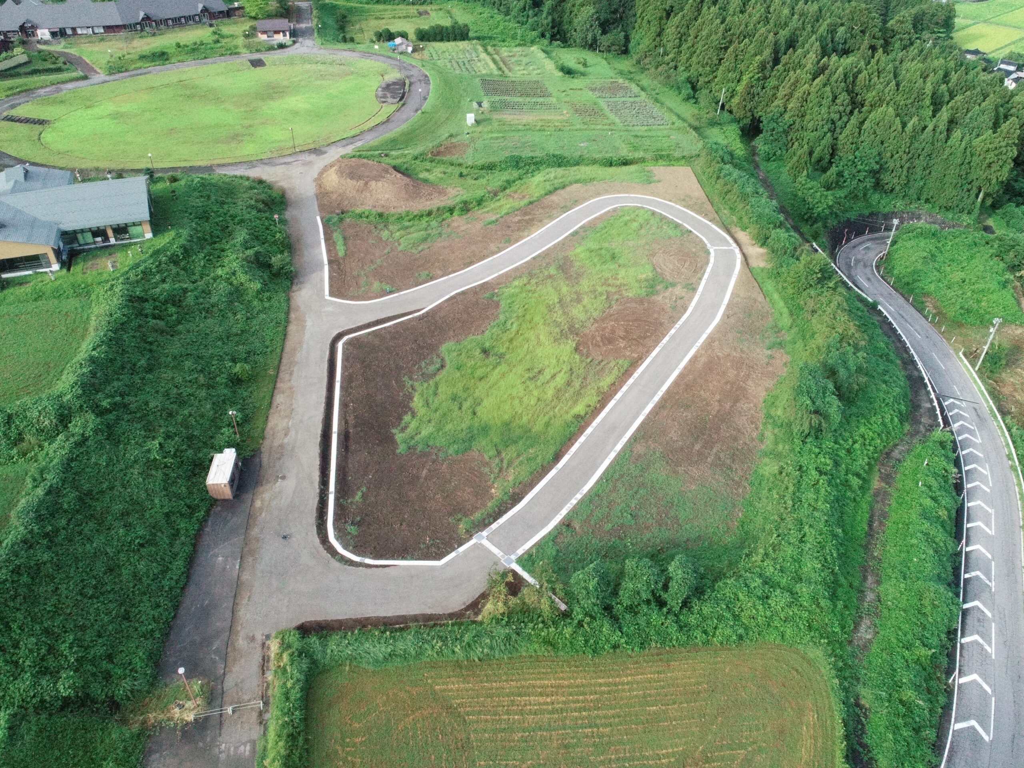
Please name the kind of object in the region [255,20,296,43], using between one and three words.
shed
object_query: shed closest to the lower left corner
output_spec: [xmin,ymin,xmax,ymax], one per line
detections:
[205,447,245,499]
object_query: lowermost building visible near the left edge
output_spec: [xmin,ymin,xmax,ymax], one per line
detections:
[0,153,157,275]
